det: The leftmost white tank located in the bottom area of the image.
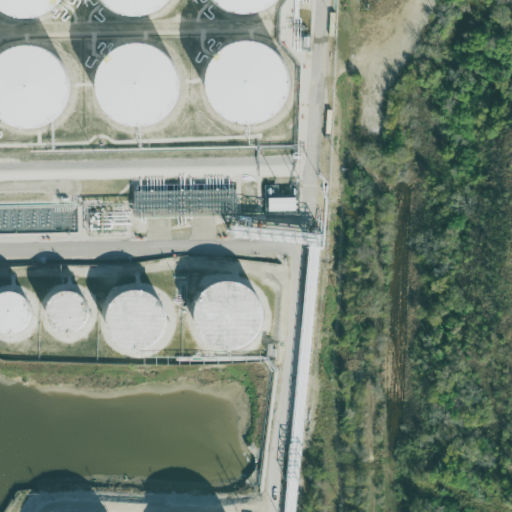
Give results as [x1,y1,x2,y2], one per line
[0,286,38,341]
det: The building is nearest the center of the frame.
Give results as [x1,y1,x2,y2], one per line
[268,198,298,212]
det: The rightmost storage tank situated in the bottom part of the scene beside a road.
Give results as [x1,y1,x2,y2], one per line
[188,276,272,358]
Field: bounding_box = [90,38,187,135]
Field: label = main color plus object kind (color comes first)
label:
white storage tank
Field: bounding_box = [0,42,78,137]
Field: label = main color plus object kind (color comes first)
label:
white storage tank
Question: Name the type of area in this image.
industrial area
